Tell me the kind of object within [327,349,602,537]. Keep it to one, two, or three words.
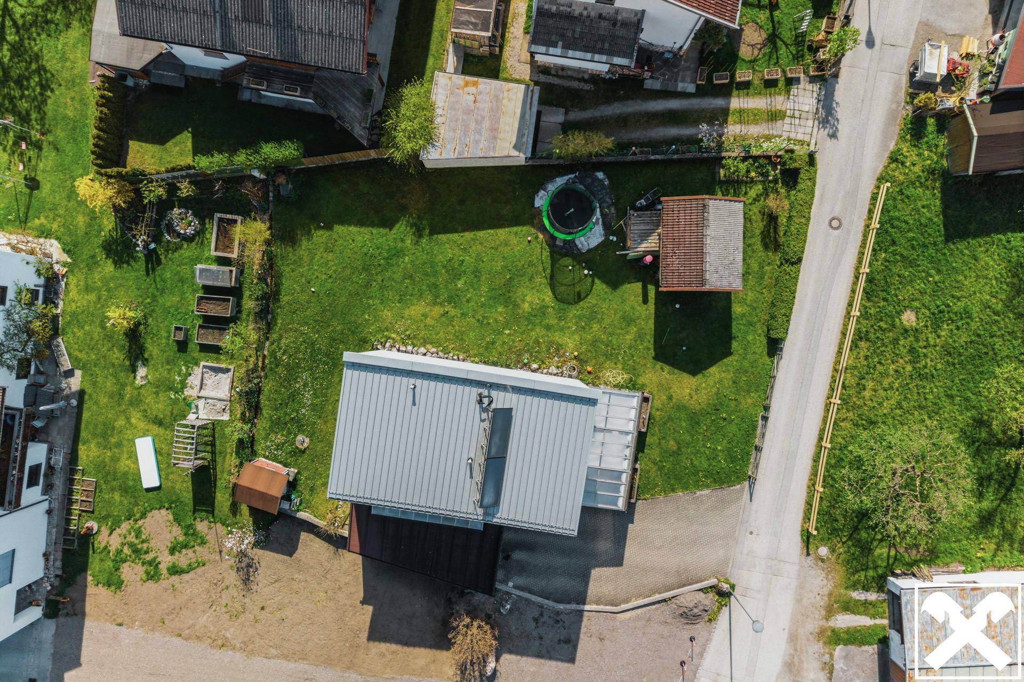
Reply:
house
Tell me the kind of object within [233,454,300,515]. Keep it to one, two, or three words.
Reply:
shed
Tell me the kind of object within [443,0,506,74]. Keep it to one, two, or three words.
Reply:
shed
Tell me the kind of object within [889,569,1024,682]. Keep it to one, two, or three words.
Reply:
building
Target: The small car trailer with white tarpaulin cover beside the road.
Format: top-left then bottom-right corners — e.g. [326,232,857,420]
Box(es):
[903,38,948,79]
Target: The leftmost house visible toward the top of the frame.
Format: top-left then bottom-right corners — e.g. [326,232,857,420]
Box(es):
[90,0,386,145]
